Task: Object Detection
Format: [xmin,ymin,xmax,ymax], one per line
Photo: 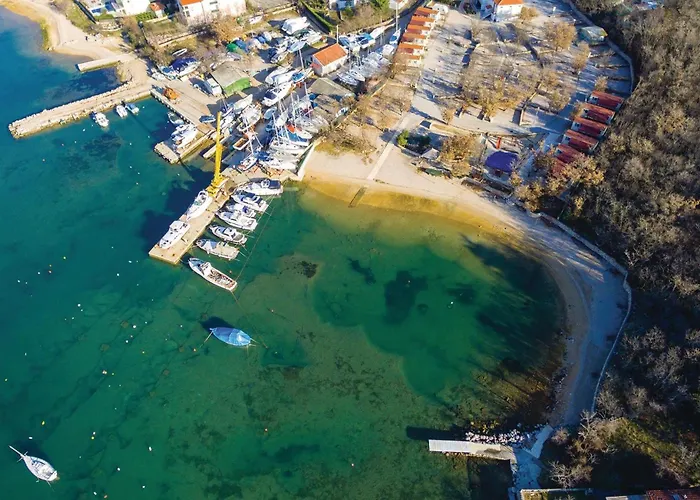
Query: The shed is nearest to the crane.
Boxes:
[211,62,251,97]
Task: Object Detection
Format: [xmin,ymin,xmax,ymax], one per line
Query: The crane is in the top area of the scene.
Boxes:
[199,107,232,200]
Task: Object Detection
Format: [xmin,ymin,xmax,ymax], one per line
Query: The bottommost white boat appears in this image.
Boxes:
[14,450,65,484]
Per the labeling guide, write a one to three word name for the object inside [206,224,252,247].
boat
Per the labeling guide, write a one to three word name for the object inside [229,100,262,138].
boat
